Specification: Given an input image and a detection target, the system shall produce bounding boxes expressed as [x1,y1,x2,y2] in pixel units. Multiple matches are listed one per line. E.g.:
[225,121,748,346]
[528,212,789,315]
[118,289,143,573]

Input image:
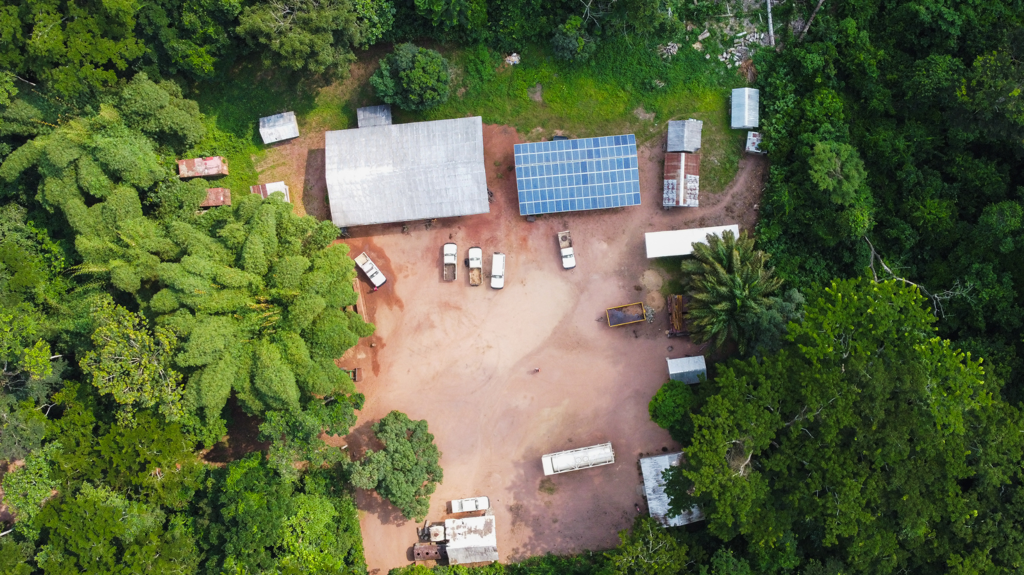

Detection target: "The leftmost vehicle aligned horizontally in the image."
[450,495,491,513]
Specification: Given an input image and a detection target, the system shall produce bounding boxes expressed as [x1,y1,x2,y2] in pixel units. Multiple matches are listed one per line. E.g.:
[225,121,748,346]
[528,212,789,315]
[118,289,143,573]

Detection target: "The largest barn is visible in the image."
[325,116,490,226]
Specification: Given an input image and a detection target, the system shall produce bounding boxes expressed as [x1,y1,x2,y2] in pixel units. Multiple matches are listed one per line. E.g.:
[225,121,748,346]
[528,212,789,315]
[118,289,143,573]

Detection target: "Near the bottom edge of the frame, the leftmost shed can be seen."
[445,514,498,565]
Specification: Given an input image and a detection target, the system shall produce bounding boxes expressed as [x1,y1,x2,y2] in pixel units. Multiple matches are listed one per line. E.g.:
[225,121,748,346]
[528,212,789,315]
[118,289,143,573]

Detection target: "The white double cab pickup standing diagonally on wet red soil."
[355,251,386,288]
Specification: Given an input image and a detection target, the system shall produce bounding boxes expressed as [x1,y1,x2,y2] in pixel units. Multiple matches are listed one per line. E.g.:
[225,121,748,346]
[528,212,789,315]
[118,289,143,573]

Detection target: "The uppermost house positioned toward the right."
[729,87,759,128]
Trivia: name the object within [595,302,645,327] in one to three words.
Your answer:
trailer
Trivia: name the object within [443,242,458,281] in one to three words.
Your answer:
vehicle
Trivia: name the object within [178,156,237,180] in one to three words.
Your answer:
building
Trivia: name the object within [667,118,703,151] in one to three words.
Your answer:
shed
